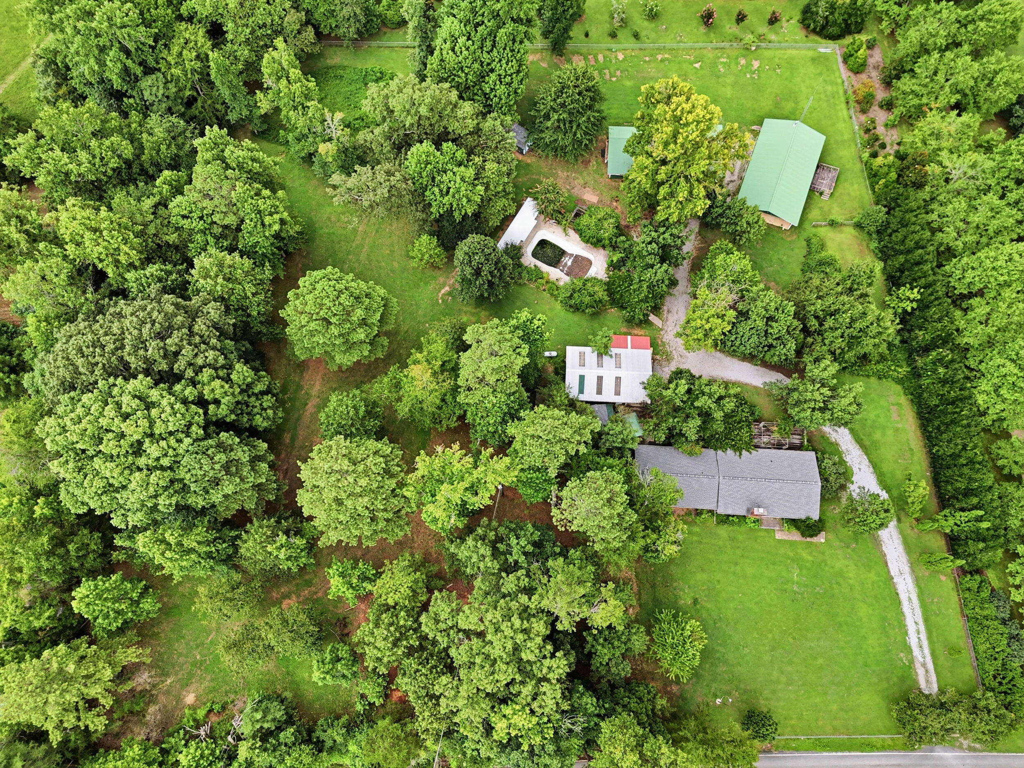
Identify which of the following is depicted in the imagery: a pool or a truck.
pool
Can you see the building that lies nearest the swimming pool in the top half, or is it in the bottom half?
top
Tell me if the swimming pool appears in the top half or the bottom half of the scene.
top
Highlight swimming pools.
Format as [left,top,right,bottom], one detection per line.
[527,229,597,280]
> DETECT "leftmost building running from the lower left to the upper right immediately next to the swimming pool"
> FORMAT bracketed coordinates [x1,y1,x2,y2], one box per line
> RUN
[497,197,538,256]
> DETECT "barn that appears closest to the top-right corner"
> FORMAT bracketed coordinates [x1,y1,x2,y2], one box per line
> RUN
[735,117,825,234]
